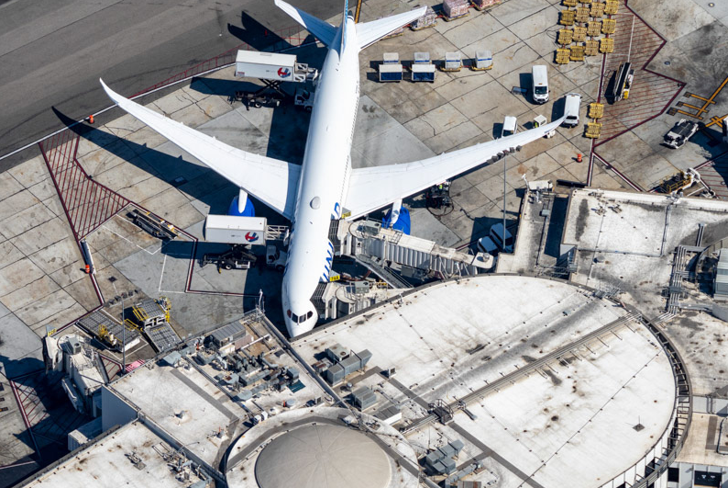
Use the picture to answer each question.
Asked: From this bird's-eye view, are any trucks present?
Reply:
Yes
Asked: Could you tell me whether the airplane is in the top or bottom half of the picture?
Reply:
top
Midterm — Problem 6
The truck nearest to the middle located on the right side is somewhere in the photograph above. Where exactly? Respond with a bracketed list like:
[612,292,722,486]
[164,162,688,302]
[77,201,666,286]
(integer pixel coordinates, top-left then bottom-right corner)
[421,184,456,226]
